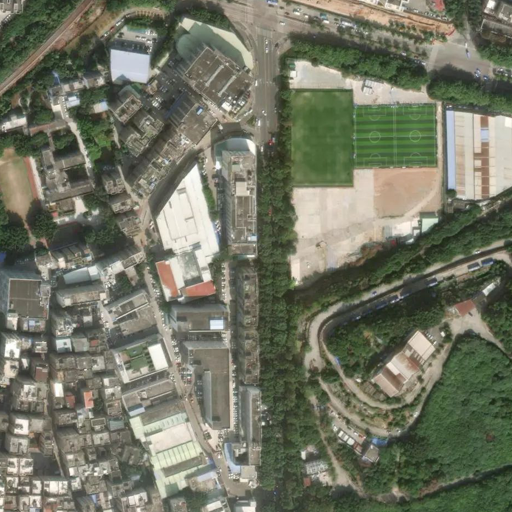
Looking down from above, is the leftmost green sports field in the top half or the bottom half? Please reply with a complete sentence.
The leftmost green sports field sits in the top half of the picture.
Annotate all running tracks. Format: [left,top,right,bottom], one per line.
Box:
[0,148,41,234]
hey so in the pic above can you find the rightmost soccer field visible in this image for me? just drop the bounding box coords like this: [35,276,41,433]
[394,104,436,168]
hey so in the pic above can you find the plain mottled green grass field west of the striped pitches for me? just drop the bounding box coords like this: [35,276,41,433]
[292,89,354,188]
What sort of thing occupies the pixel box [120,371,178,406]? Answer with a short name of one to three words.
building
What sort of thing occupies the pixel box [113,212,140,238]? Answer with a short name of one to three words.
building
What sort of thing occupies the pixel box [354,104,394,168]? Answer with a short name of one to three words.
soccer field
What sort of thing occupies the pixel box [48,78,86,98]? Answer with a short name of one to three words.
house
